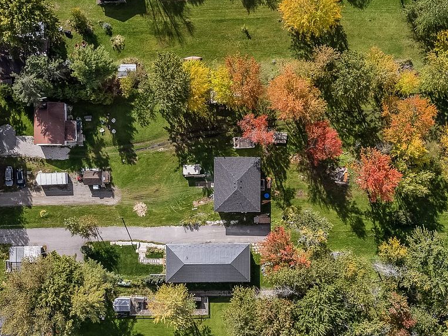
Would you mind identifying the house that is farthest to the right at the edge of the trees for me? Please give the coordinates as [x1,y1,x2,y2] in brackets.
[214,157,271,224]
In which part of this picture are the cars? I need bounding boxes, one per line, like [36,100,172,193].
[15,167,25,187]
[4,166,14,187]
